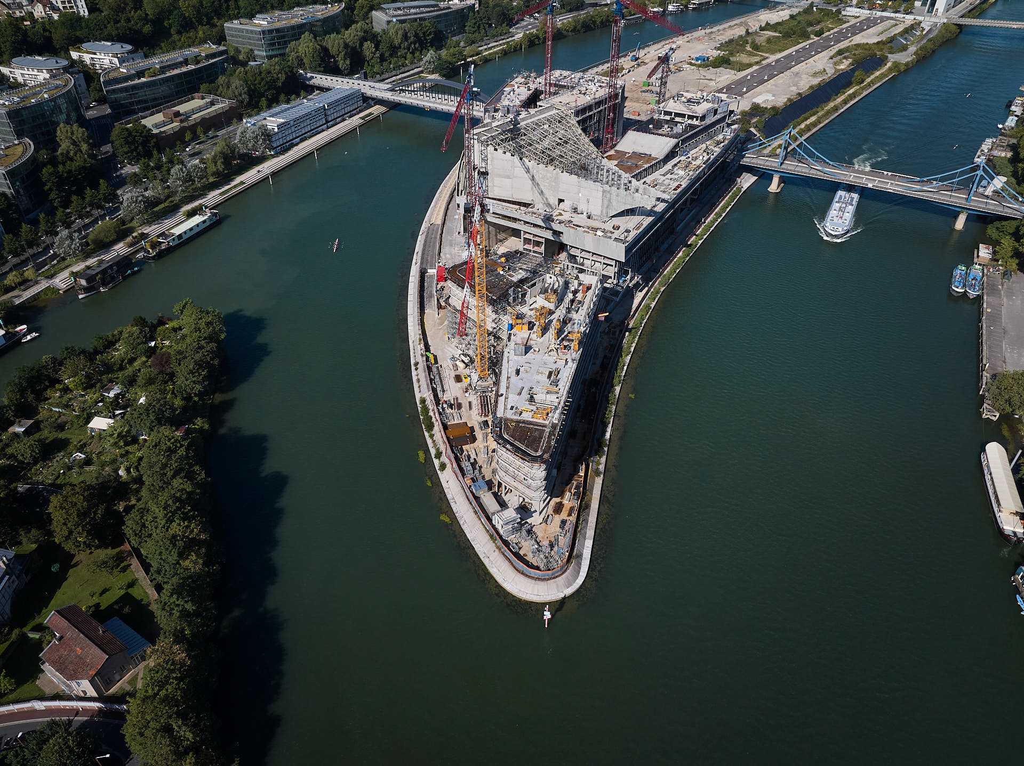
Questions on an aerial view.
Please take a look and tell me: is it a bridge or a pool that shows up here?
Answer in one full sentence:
This aerial view contains a bridge.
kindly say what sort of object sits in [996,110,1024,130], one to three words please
vessel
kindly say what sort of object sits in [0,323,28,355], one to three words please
boat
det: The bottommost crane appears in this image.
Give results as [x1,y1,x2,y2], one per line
[456,175,496,379]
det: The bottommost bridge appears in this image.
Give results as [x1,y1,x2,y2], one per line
[727,130,1024,227]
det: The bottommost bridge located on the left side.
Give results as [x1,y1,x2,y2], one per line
[302,73,488,122]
